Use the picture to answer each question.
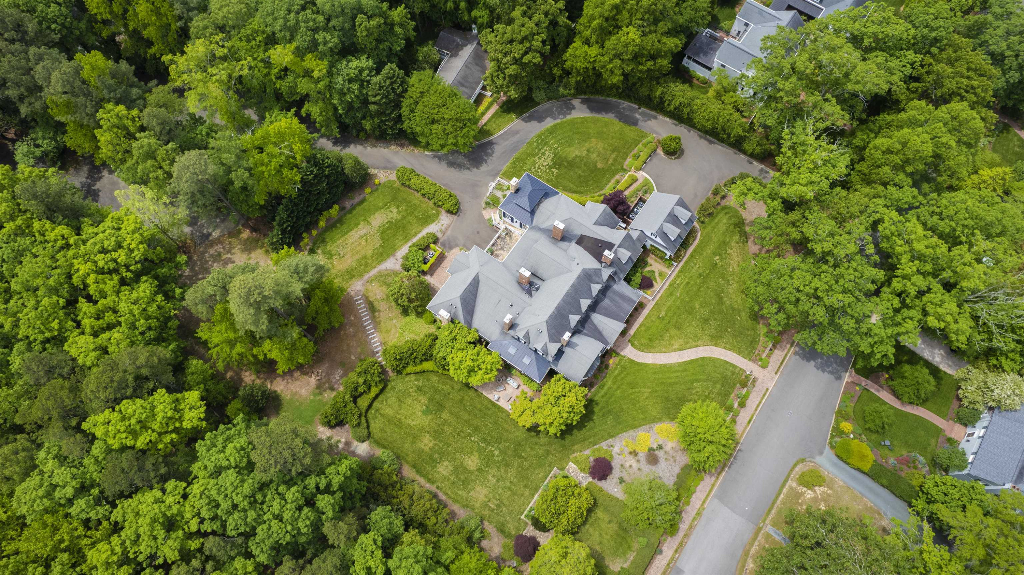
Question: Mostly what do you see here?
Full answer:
The bulk of the photo consists of trees.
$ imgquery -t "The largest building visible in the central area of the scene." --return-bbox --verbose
[426,172,648,381]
